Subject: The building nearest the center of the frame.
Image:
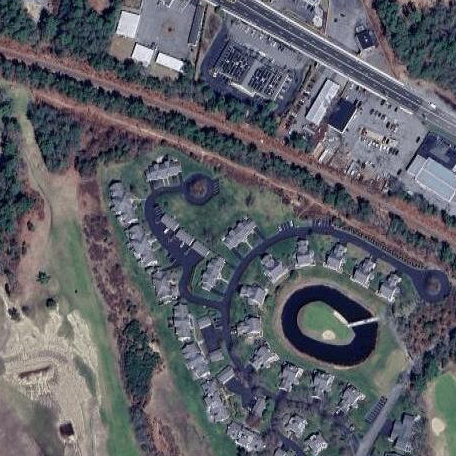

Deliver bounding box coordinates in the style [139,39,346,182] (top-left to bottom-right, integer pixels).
[222,217,258,251]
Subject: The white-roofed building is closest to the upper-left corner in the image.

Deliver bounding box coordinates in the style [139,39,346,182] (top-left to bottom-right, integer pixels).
[115,11,140,39]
